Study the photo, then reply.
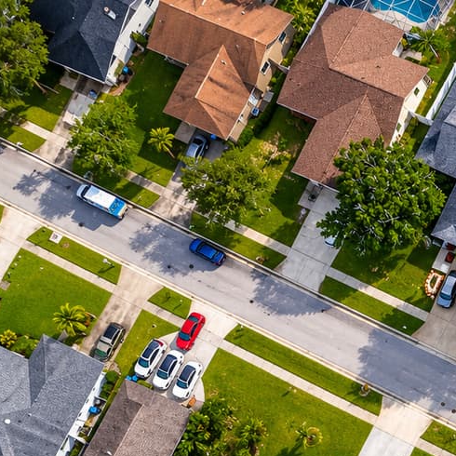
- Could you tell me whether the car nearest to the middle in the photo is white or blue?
blue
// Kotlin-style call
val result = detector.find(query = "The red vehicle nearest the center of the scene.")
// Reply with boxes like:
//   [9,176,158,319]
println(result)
[178,311,208,351]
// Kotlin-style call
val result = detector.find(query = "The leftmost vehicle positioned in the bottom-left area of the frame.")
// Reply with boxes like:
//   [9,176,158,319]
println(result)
[96,321,128,362]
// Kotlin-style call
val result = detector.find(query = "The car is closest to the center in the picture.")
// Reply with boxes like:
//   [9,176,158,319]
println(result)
[191,238,230,268]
